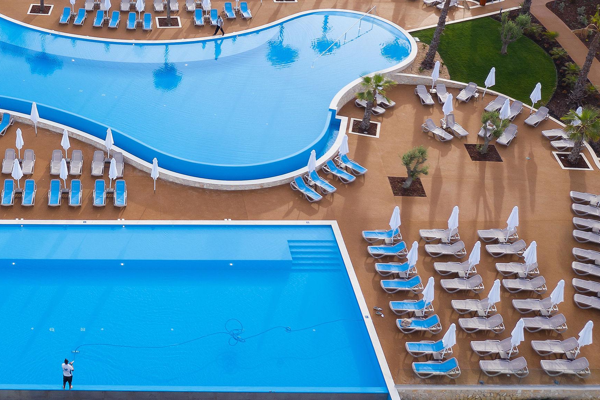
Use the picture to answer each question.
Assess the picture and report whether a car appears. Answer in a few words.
No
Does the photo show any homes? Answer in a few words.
No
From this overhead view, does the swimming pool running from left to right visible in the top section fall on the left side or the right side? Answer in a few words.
left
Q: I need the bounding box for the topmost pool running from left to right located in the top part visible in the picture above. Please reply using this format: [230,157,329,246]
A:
[0,23,407,169]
